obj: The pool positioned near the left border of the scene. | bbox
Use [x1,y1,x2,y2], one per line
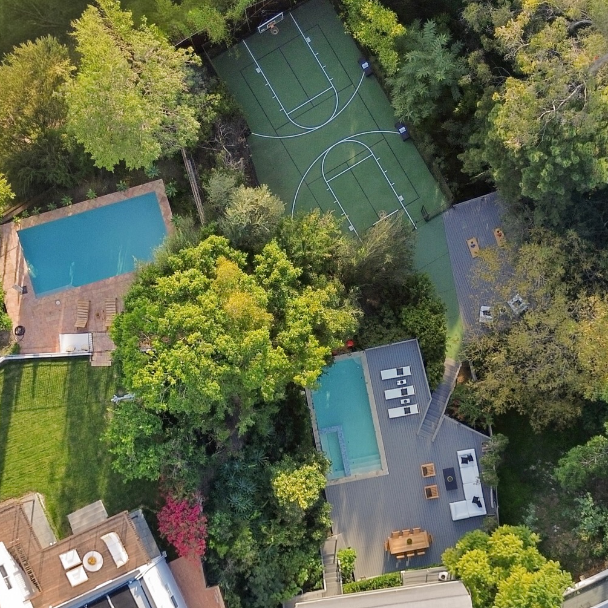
[2,181,171,310]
